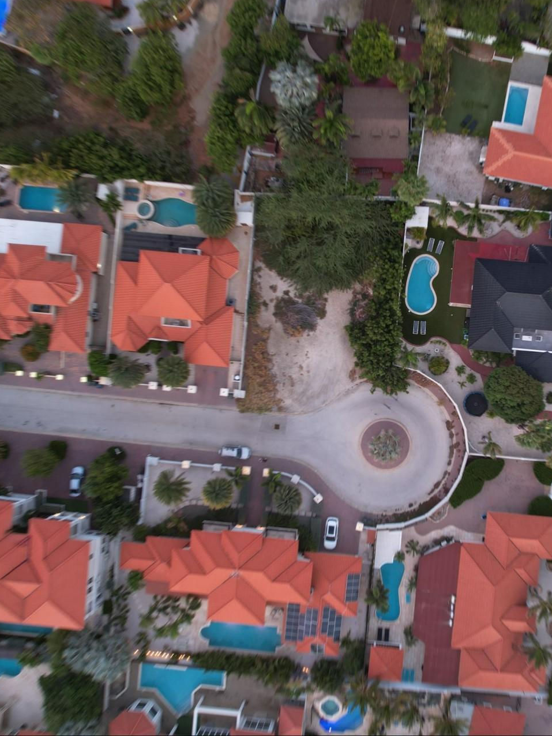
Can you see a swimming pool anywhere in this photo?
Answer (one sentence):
Yes, there is a swimming pool in the image.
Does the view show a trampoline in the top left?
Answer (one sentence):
No, no trampoline is visible in the top left.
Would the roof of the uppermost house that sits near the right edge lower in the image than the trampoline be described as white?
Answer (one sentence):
No, the roof of the uppermost house that sits near the right edge lower in the image than the trampoline is red.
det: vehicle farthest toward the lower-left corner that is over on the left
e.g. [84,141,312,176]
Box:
[67,466,84,498]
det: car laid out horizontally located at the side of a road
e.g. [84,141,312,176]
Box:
[218,445,251,462]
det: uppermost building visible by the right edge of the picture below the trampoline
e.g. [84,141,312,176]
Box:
[413,510,552,695]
